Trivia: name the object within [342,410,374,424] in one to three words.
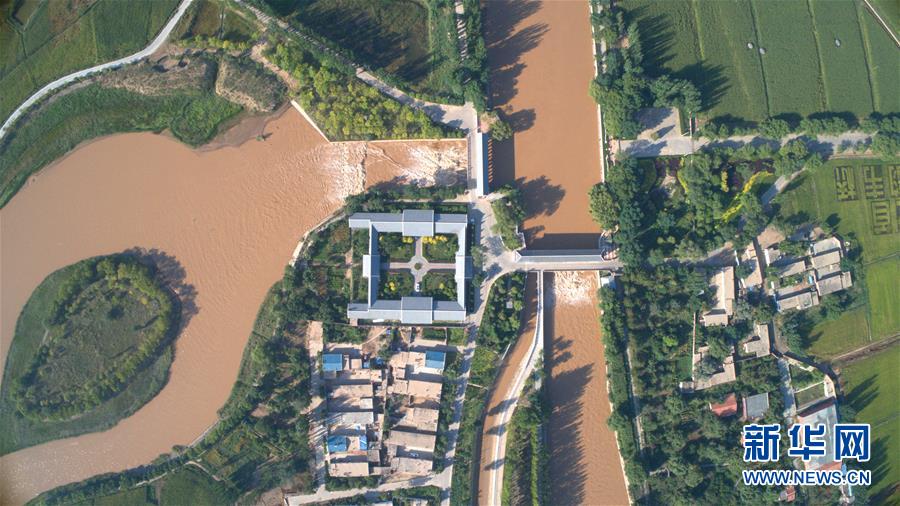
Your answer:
house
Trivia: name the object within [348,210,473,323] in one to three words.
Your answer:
building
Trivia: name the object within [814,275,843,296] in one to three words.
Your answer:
house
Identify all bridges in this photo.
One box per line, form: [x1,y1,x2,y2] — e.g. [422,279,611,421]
[515,246,605,271]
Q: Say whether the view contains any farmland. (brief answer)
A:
Yes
